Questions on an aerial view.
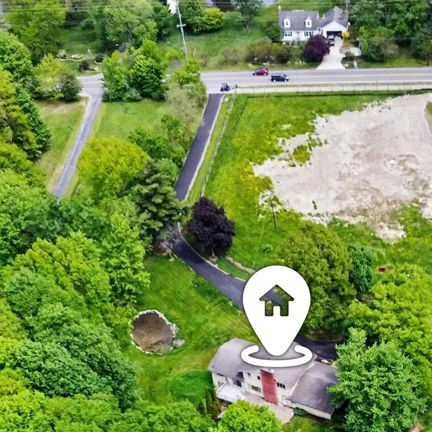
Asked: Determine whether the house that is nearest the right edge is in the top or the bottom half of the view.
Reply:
top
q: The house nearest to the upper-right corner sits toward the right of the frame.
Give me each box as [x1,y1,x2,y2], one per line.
[279,6,351,40]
